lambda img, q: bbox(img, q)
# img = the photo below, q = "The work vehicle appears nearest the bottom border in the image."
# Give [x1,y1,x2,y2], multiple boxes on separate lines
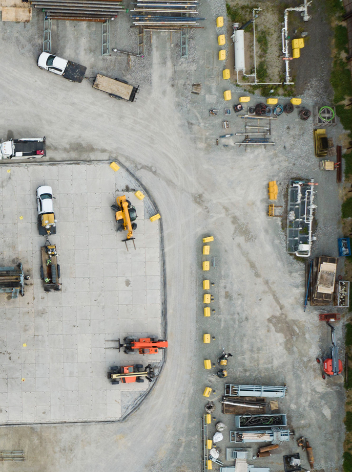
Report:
[105,366,158,384]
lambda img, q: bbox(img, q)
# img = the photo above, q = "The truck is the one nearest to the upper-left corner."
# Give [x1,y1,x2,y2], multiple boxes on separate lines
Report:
[35,53,86,85]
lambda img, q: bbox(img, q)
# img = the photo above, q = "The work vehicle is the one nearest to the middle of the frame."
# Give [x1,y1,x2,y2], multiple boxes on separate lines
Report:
[110,195,136,250]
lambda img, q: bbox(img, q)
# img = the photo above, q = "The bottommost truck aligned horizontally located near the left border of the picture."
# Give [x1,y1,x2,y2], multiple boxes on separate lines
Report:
[0,137,48,159]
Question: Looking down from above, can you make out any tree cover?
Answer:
No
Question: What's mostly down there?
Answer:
paved ground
